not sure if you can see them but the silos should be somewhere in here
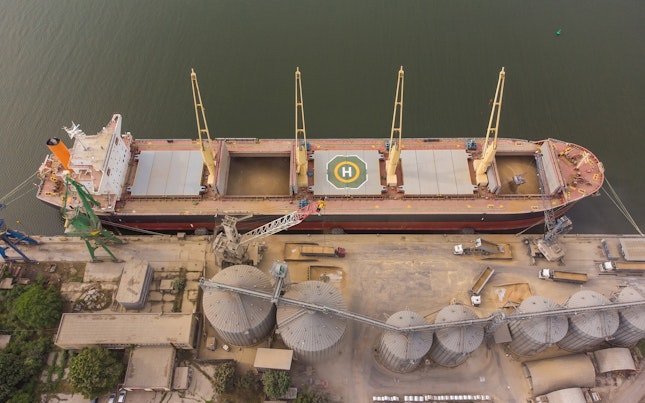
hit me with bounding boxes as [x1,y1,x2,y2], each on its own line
[275,281,349,363]
[506,294,571,360]
[610,282,645,348]
[202,264,278,346]
[377,309,434,375]
[560,288,620,354]
[429,304,486,369]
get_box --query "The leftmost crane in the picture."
[0,213,39,262]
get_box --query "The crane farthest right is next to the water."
[520,145,566,266]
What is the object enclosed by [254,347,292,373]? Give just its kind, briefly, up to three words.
shed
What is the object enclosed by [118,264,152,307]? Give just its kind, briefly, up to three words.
building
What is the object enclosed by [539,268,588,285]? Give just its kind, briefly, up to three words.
vehicle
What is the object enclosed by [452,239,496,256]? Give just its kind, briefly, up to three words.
vehicle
